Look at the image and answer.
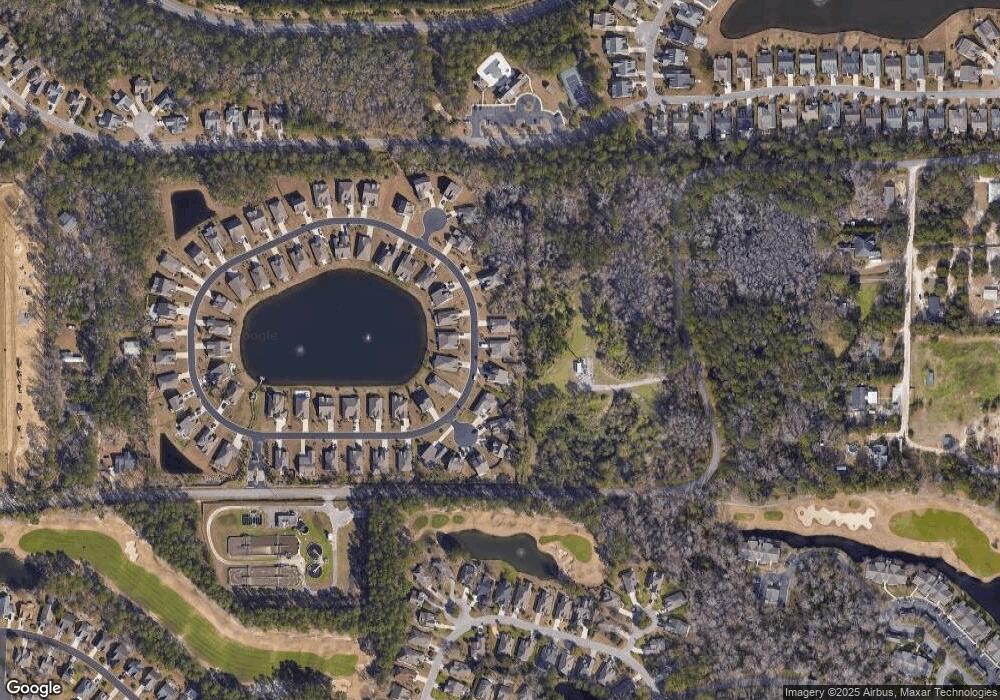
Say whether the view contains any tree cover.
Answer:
Yes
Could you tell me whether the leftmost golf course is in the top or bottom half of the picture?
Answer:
bottom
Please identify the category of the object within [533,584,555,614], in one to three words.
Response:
house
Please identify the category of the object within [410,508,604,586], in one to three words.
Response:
golf course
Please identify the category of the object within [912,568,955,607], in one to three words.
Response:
building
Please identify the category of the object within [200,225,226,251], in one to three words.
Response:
house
